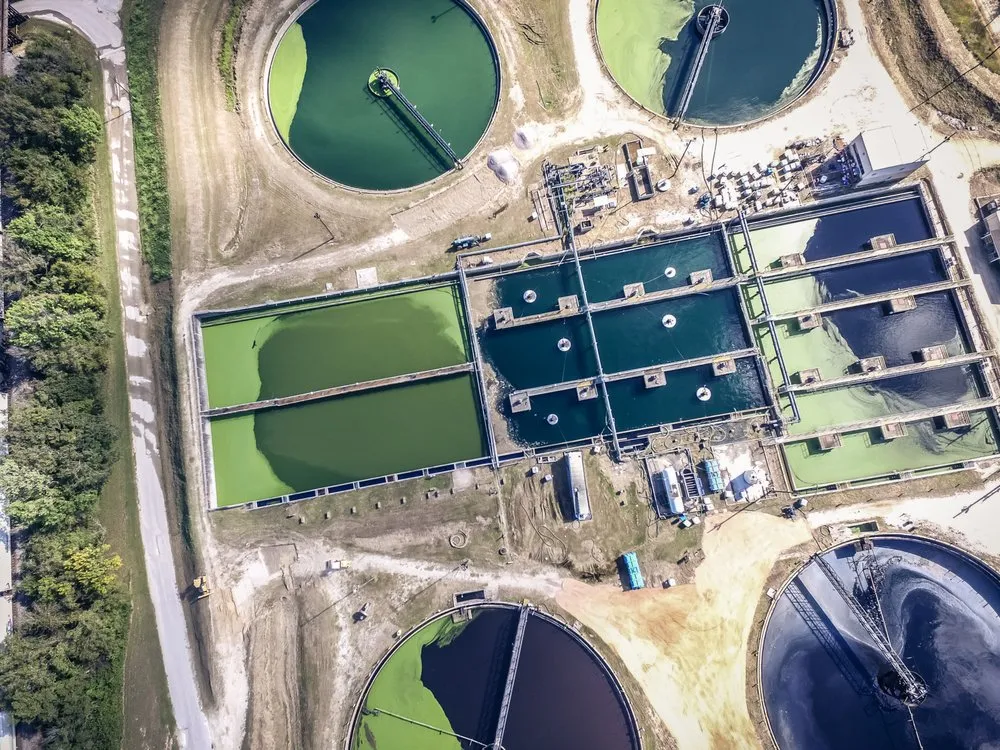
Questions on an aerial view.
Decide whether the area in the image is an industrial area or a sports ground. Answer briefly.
industrial area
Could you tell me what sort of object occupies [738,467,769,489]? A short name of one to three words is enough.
silo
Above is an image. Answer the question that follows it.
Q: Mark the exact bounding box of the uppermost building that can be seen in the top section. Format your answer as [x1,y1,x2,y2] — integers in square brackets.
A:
[847,122,930,184]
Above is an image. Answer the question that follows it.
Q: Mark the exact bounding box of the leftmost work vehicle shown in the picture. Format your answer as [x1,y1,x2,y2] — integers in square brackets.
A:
[192,578,211,600]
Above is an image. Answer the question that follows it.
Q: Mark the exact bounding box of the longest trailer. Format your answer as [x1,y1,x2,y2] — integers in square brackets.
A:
[567,451,593,520]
